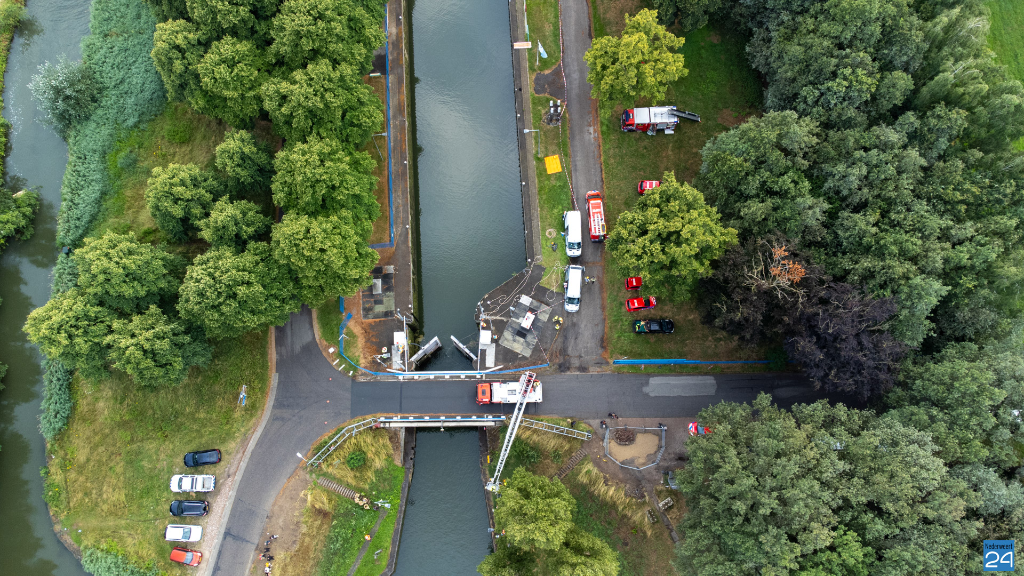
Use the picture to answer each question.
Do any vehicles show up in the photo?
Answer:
Yes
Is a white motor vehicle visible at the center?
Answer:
Yes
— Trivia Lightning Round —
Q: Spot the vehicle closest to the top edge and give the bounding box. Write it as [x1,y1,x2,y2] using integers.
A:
[619,111,700,142]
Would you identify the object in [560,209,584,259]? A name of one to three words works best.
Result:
vehicle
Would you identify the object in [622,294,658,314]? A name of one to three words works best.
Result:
car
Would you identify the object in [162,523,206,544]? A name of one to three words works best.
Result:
car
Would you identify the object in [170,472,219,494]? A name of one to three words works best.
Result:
truck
